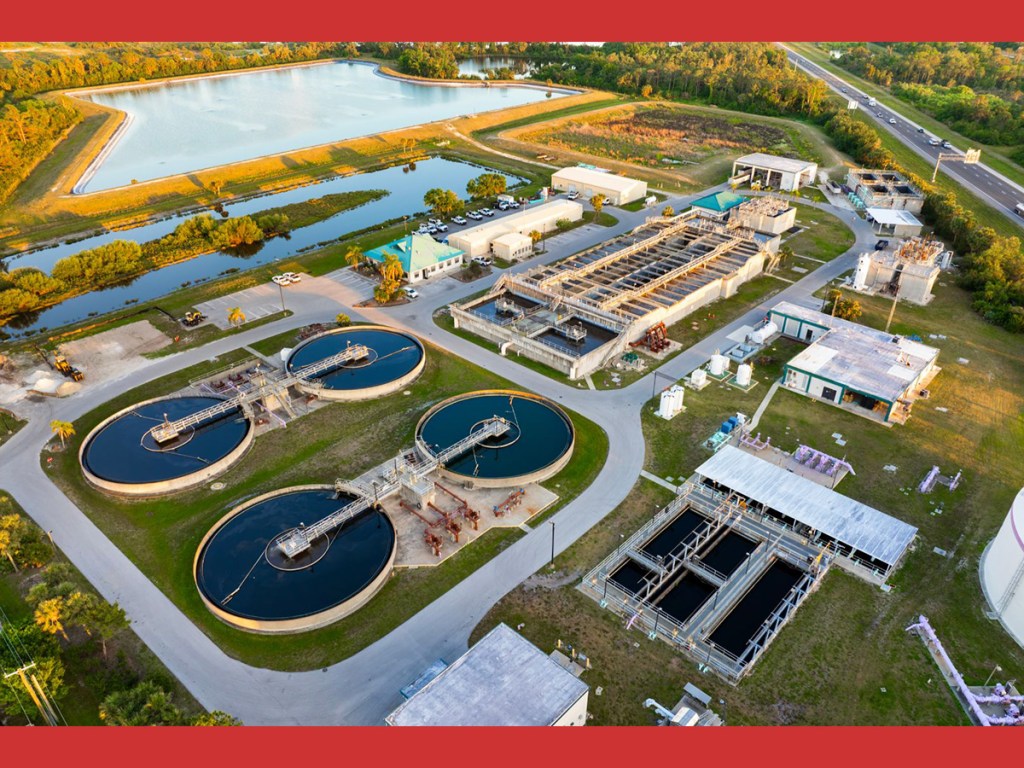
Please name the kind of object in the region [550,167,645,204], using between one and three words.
building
